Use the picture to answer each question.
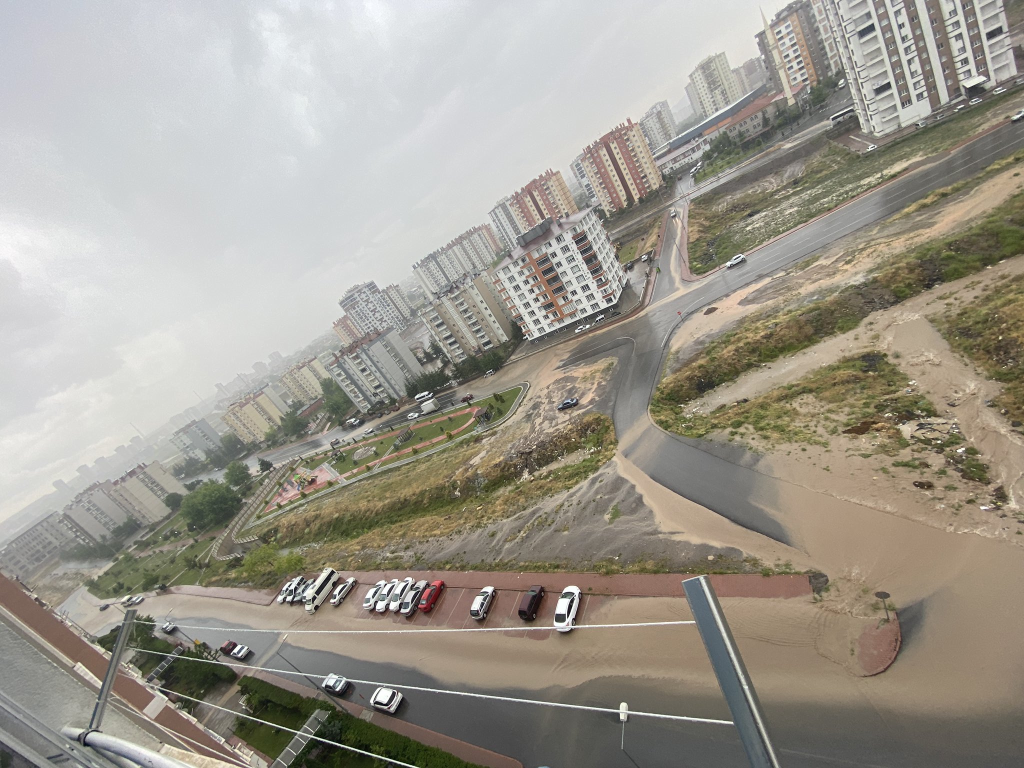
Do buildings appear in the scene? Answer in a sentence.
Yes, this view includes a building.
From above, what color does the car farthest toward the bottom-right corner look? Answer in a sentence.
The car farthest toward the bottom-right corner is white.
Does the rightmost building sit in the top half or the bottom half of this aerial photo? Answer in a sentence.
The rightmost building is in the top half of the image.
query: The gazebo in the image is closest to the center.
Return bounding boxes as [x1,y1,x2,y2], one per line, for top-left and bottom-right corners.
[467,404,496,428]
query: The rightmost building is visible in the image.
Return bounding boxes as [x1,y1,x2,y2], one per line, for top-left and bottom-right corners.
[841,0,1019,136]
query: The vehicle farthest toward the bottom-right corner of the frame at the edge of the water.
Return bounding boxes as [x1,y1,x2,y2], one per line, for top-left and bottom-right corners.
[554,585,581,632]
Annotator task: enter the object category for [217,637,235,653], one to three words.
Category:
car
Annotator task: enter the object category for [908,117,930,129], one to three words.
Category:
vehicle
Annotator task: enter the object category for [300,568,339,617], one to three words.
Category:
vehicle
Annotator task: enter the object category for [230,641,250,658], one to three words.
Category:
car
